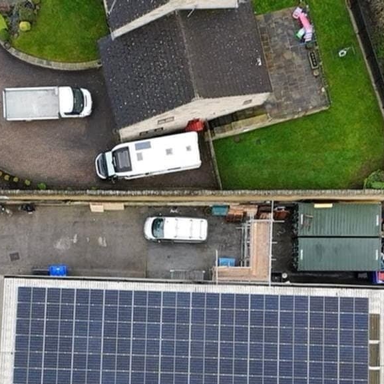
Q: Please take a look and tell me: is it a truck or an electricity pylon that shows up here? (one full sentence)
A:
Of the two, only a truck appears.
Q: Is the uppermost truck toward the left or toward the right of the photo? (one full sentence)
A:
The uppermost truck is on the left side of the image.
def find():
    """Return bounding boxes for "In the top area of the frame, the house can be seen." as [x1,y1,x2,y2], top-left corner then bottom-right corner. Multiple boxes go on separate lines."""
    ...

[86,0,276,137]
